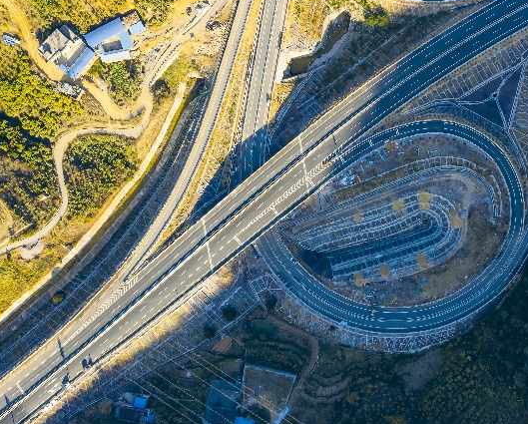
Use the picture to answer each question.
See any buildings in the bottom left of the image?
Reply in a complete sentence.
Yes, a building can be seen in the bottom left of the image.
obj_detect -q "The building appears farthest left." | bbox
[37,25,96,79]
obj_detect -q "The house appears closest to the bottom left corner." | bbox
[113,395,155,424]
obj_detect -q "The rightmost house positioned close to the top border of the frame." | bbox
[83,11,145,62]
